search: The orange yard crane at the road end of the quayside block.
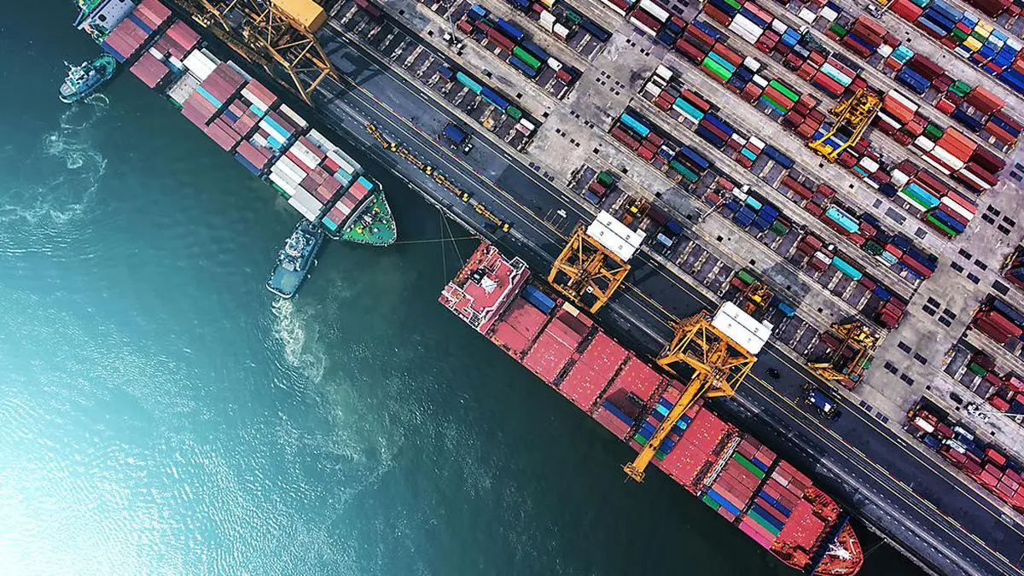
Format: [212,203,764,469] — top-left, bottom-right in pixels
[805,320,886,384]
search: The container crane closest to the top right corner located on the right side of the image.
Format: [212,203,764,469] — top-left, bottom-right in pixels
[804,87,884,166]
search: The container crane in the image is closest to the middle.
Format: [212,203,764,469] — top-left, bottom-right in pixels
[541,191,656,320]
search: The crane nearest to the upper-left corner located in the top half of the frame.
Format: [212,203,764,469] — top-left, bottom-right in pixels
[183,0,274,63]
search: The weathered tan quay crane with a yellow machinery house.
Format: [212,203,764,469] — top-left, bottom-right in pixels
[230,0,343,112]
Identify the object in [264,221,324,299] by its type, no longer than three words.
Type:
boat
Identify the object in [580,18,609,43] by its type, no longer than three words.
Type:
shipping container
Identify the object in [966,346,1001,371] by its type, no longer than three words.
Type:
shipping container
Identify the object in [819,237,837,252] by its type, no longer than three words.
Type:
vehicle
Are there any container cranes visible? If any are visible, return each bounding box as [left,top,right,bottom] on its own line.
[230,0,343,112]
[183,0,274,63]
[805,320,886,384]
[804,87,884,166]
[541,191,656,320]
[621,280,782,485]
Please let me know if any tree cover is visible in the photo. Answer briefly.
No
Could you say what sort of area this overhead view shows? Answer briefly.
port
